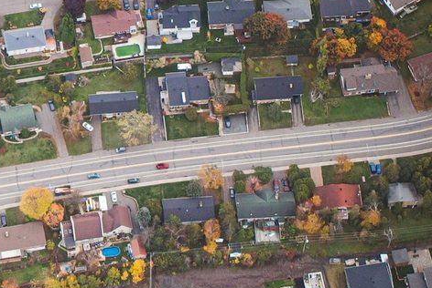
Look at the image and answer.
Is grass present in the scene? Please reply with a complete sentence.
Yes, some grass is visible.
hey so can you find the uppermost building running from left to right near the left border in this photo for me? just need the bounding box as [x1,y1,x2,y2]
[2,26,56,55]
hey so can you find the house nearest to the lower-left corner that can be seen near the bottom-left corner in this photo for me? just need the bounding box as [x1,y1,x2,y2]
[0,222,50,261]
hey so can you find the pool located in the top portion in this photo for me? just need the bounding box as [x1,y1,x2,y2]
[114,43,143,57]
